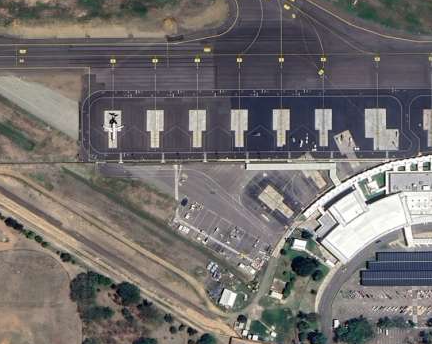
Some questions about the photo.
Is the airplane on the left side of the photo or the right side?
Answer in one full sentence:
The airplane sits on the left side.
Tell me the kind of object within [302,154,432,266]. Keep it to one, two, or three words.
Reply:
building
